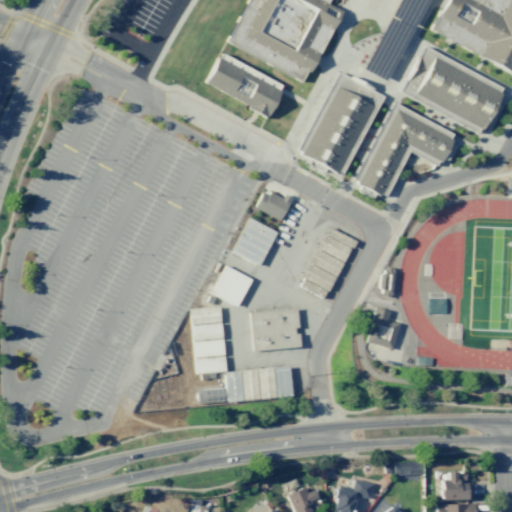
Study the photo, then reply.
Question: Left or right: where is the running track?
right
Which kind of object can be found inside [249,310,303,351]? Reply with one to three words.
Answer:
building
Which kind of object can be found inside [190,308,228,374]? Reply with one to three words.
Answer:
barn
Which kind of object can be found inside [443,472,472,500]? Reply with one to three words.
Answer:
house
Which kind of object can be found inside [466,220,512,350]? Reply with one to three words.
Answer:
sports field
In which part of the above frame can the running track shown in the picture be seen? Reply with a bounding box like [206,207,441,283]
[395,194,512,375]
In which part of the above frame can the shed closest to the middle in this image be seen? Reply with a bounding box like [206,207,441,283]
[230,218,278,266]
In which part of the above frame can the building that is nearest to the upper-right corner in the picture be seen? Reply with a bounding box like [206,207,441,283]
[429,0,512,75]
